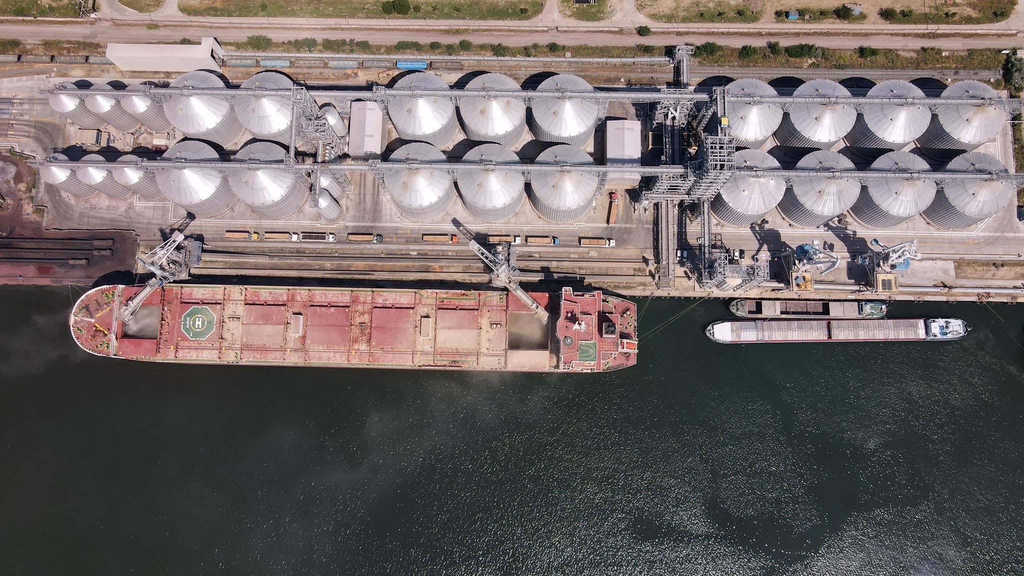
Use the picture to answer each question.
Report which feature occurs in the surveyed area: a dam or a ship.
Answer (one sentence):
Looking from above, you can make out a ship.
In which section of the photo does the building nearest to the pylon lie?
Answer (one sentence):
The building nearest to the pylon appears toward the top left of the photo.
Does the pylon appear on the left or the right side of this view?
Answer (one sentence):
It is on the left.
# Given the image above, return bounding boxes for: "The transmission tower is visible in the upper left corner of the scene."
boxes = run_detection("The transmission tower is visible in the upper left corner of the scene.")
[67,0,99,21]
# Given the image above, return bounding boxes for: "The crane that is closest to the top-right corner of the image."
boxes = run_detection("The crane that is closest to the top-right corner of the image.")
[854,239,921,299]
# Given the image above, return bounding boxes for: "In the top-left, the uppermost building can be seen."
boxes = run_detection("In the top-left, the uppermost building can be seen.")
[106,37,224,70]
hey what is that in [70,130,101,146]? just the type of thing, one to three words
shed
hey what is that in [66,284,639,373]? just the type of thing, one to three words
ship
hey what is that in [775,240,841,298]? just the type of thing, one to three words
crane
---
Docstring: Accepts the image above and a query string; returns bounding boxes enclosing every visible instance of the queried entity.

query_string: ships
[728,299,891,319]
[66,284,639,373]
[704,317,971,344]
